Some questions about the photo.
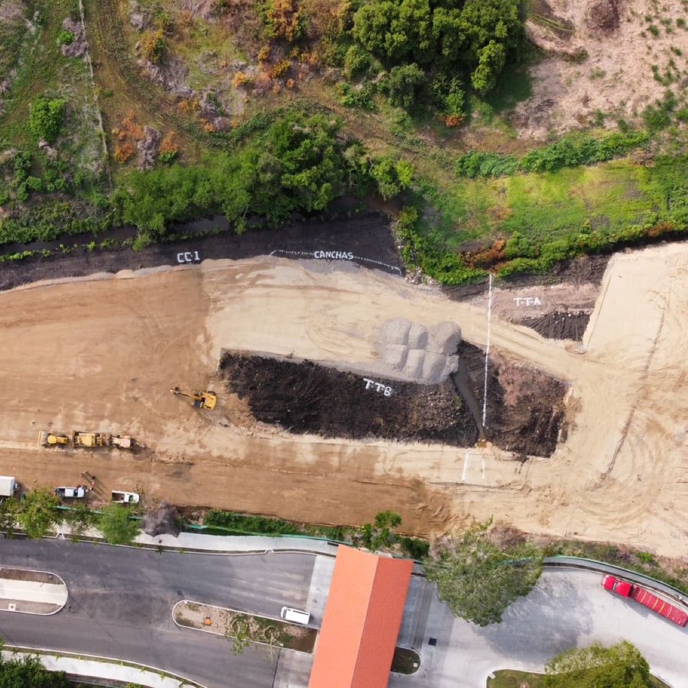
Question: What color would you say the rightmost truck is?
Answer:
red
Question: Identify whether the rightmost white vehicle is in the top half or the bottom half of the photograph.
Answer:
bottom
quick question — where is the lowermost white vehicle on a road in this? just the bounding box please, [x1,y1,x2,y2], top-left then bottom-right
[280,605,310,626]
